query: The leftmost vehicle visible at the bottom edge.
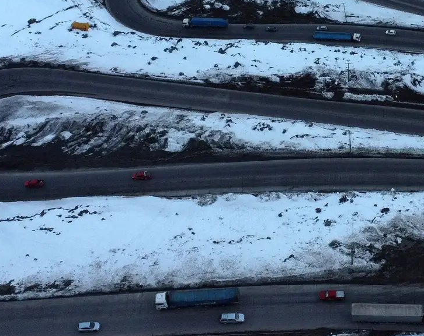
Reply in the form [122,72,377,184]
[75,321,103,335]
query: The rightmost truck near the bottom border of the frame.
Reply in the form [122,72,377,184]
[352,300,424,328]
